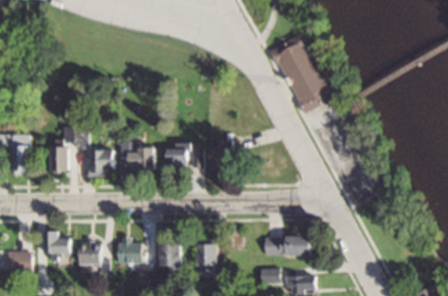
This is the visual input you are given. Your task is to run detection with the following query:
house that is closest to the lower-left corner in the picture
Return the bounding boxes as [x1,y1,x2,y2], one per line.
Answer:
[0,250,33,270]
